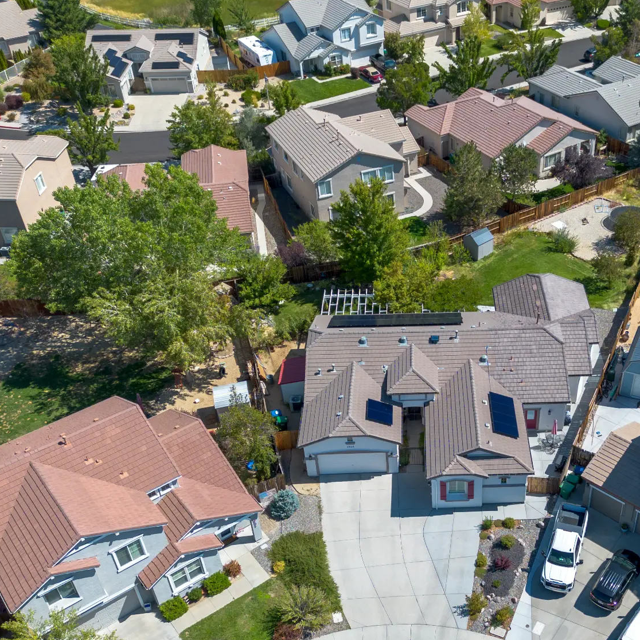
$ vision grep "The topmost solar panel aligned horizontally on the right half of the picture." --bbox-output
[330,314,461,327]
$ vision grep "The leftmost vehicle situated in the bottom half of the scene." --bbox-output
[541,506,587,591]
